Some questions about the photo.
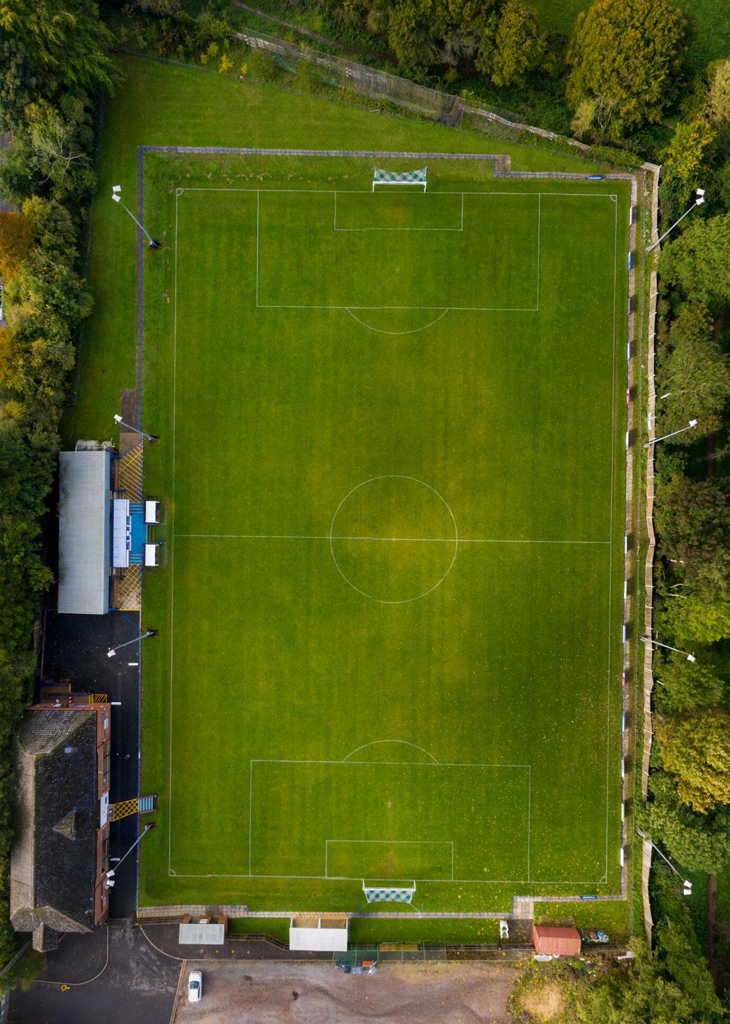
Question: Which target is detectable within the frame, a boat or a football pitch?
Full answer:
The image shows a football pitch.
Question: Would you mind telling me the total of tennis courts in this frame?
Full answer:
No tennis courts are visible.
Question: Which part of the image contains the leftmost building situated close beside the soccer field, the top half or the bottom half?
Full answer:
The bottom half of the photo is where the leftmost building situated close beside the soccer field is.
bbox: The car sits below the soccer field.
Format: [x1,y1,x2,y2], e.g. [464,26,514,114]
[186,974,202,1007]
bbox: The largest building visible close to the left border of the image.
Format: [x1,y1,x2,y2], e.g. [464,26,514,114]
[9,701,114,952]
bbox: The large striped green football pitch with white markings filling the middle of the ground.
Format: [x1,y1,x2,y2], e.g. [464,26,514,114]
[164,187,622,888]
